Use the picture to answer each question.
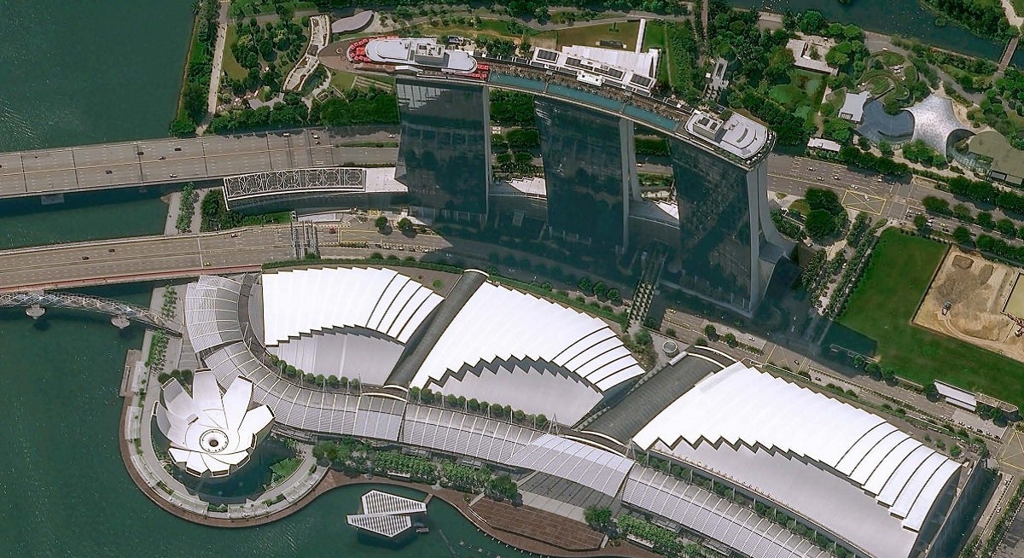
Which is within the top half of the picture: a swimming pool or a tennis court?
swimming pool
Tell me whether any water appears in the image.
Yes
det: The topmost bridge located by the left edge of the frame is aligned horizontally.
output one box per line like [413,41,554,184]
[0,124,393,198]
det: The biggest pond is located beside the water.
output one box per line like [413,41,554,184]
[152,402,307,504]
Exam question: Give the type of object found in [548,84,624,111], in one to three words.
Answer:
swimming pool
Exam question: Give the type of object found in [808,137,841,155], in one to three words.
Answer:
building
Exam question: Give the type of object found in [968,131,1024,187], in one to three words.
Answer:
building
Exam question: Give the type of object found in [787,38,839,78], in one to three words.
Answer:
house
